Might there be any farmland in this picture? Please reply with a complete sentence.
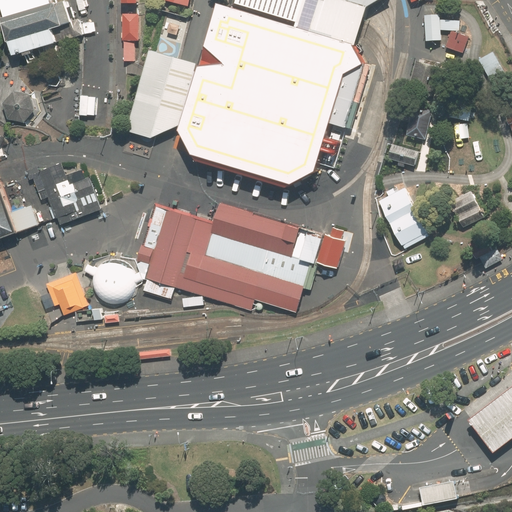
No, no farmland is visible.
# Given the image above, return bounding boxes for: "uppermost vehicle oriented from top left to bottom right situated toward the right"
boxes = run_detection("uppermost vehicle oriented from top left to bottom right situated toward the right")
[326,168,341,184]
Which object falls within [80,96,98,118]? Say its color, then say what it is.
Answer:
white tent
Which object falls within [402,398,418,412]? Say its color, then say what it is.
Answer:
white car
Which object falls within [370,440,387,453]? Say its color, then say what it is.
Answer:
white vehicle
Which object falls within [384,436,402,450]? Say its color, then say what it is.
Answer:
blue vehicle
